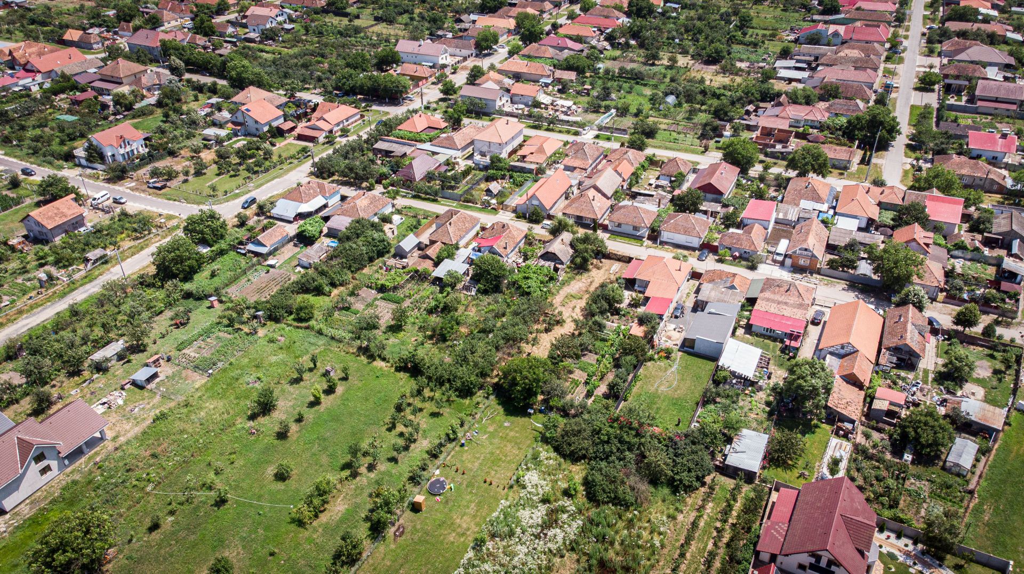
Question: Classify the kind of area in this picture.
residential area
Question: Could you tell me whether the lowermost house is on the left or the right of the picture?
right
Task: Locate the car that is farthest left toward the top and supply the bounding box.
[18,163,37,175]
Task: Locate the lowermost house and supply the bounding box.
[752,482,879,574]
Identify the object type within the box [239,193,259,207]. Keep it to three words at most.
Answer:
car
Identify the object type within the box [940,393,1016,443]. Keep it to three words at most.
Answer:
shed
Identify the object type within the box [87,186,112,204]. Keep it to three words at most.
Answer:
vehicle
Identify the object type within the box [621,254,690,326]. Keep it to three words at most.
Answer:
house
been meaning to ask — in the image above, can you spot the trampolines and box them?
[428,479,448,496]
